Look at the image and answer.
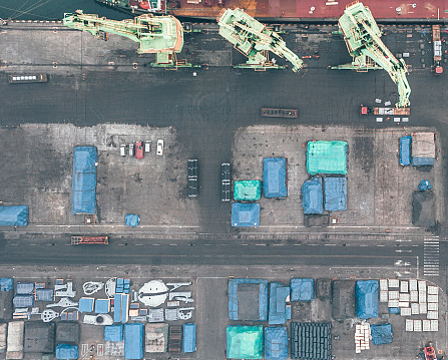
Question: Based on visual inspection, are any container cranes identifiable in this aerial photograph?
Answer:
Yes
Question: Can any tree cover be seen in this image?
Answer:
No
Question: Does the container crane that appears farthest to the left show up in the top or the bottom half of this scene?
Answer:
top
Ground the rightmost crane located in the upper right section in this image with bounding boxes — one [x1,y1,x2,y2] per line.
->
[326,3,418,106]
